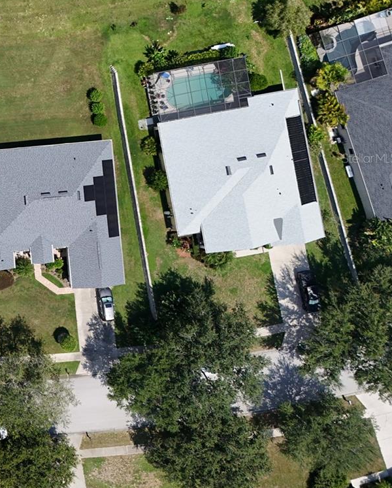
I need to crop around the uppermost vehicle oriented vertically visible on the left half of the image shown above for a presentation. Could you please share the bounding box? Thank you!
[98,288,115,324]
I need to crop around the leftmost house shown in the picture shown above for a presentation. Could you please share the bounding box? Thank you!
[0,139,126,289]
